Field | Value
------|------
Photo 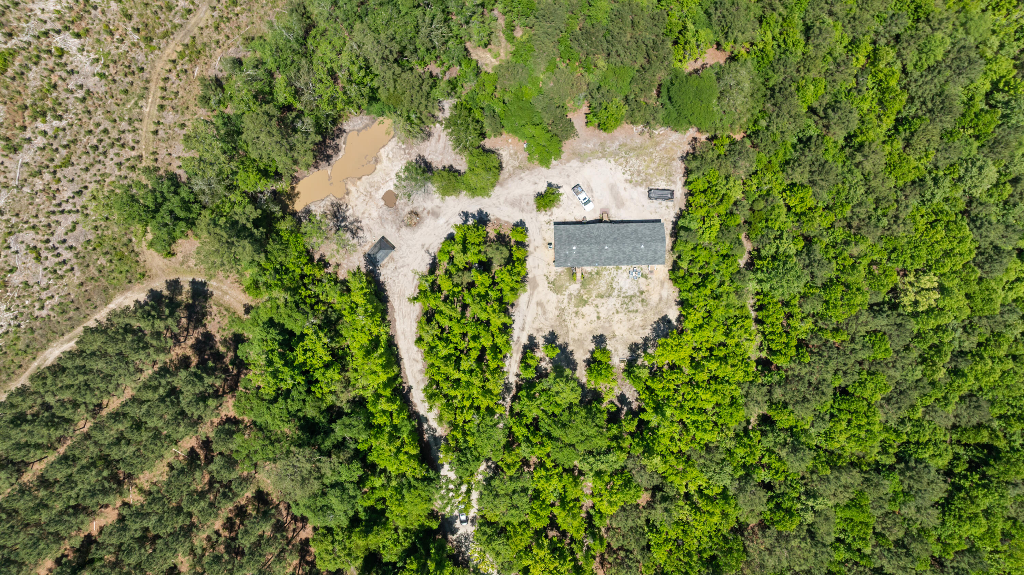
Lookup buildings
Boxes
[366,238,395,267]
[554,222,666,267]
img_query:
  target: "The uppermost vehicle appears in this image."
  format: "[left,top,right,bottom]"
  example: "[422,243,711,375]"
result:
[570,182,595,213]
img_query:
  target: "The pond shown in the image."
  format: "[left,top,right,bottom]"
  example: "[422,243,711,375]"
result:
[292,117,395,211]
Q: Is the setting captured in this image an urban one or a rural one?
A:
rural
